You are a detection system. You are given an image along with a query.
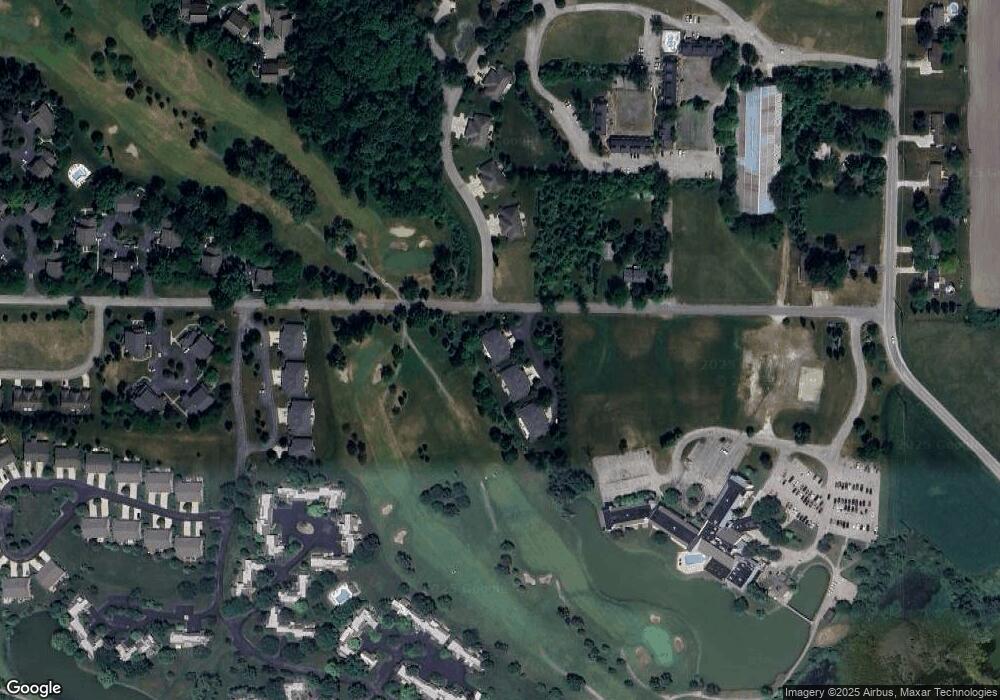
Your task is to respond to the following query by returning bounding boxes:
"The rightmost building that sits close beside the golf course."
[598,474,760,590]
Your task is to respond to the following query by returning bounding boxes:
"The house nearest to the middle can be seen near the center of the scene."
[480,326,516,369]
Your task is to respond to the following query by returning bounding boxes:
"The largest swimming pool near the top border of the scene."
[662,30,680,53]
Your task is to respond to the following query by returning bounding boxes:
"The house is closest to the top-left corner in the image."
[27,102,54,143]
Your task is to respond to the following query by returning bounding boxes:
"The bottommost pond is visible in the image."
[10,611,129,700]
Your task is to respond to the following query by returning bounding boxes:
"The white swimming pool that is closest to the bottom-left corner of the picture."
[329,583,352,605]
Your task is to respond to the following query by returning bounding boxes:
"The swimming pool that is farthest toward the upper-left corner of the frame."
[68,164,91,187]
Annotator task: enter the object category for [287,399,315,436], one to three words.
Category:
house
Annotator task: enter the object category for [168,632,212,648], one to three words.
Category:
building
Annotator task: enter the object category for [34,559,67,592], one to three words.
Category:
house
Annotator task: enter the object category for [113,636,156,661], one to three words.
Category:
building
